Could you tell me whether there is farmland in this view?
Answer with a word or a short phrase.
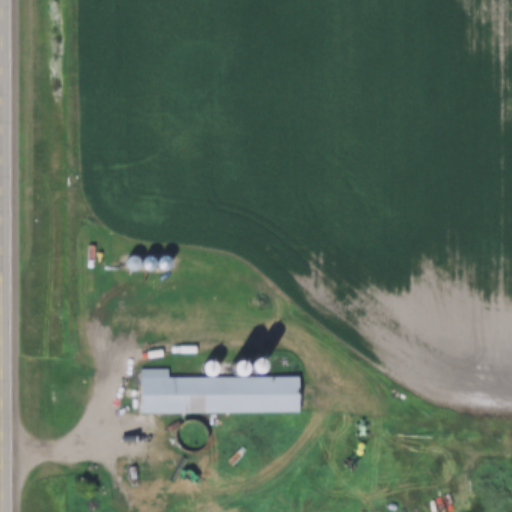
Yes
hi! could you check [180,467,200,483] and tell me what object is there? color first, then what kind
green work vehicle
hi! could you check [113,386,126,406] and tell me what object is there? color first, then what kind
white vehicle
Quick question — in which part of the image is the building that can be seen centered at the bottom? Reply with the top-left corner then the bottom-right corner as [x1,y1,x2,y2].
[140,368,302,418]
